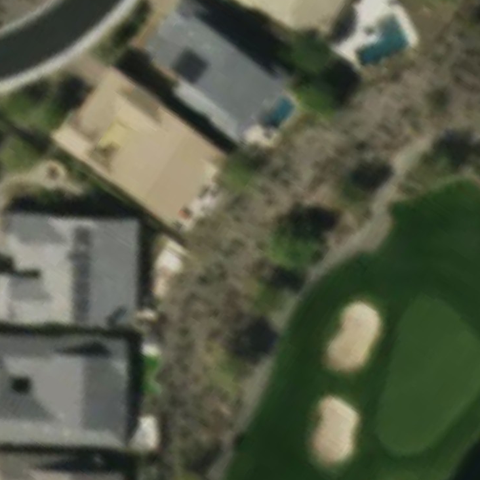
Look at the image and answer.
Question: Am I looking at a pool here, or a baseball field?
pool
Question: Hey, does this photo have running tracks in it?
No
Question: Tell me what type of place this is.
residential area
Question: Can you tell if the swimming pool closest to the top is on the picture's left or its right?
right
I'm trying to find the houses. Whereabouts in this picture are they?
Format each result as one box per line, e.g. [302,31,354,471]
[0,334,128,446]
[52,68,227,228]
[244,0,343,35]
[0,451,124,480]
[0,213,138,328]
[146,0,288,141]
